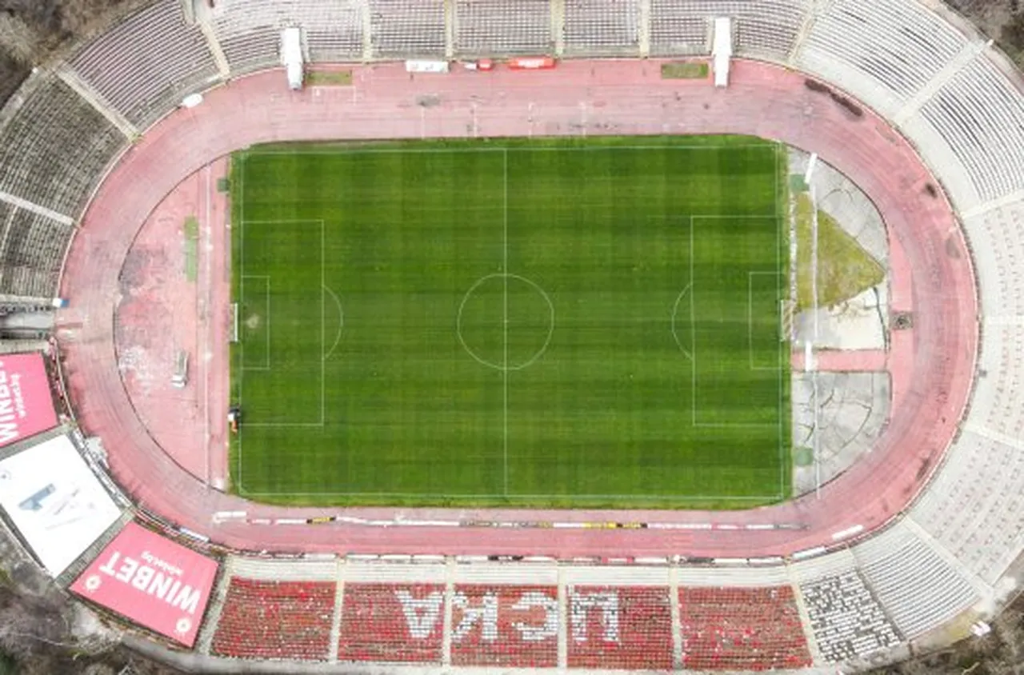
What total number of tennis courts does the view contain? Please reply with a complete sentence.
I count no tennis courts.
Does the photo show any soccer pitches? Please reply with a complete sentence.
Yes, a soccer pitch can be made out from above.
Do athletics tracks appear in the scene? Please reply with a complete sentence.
Yes, looking at the shot, I can spot an athletics track.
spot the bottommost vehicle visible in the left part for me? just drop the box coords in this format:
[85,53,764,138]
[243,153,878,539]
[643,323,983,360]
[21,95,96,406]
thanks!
[226,406,238,431]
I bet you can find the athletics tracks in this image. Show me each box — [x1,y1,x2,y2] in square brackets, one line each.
[57,58,979,562]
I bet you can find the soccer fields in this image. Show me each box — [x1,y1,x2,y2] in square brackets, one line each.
[230,134,796,510]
